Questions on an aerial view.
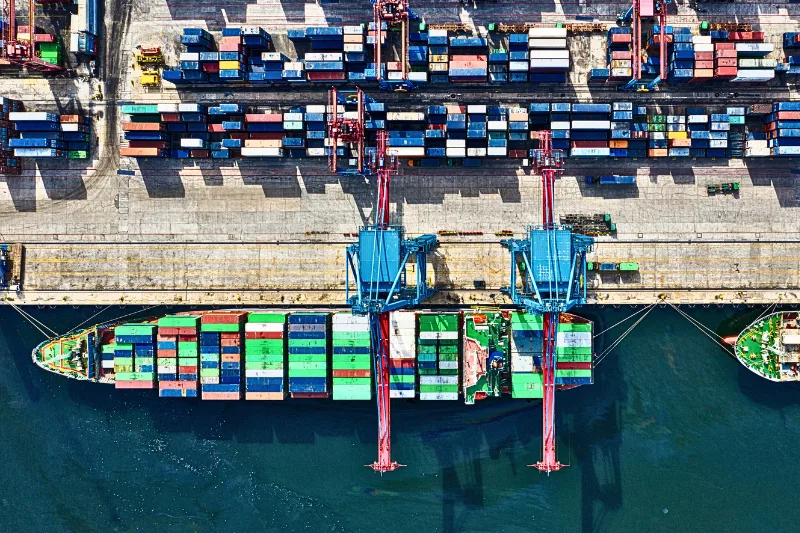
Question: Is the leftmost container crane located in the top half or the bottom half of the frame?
top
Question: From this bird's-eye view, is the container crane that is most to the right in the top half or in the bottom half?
top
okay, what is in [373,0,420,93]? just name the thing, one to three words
container crane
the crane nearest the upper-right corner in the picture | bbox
[615,0,667,93]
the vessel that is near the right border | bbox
[721,314,800,388]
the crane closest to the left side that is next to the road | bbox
[2,0,88,76]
